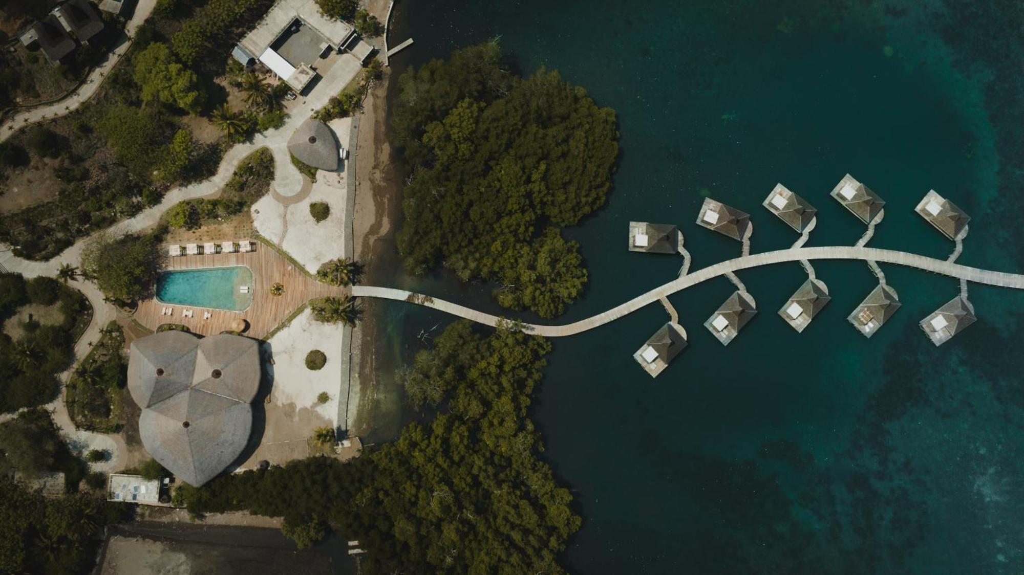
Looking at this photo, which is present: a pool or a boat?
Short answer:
pool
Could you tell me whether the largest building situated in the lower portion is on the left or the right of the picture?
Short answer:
left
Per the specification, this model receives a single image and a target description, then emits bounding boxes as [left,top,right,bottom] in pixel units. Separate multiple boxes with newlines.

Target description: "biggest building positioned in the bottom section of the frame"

[127,330,260,488]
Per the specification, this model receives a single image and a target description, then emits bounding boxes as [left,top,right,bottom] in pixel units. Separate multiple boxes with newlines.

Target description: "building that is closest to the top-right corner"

[912,189,972,242]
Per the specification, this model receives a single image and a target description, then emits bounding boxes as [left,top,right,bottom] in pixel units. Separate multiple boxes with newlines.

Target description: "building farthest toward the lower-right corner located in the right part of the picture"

[918,296,978,346]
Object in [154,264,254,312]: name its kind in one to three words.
swimming pool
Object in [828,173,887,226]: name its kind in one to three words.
house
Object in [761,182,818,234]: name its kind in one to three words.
house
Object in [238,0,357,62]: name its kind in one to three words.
building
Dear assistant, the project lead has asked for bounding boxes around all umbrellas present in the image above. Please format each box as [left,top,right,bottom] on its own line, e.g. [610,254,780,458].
[231,319,244,332]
